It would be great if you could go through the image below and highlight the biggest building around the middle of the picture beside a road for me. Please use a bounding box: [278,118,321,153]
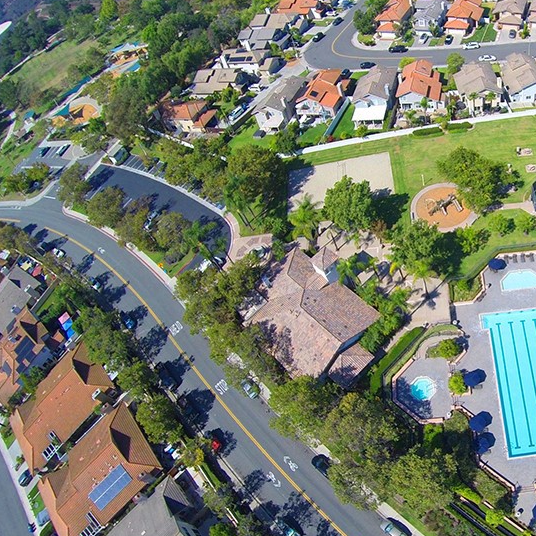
[229,247,380,389]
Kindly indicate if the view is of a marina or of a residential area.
residential area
